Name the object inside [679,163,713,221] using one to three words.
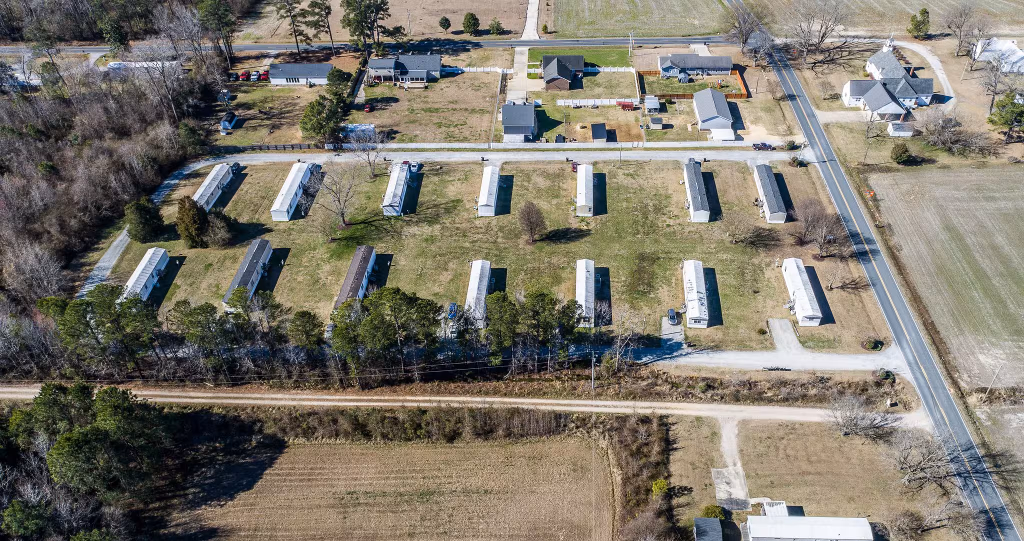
house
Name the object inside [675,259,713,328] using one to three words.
house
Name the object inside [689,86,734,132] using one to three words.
building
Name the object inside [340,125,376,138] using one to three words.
shed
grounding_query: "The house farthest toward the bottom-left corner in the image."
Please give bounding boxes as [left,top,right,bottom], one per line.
[116,247,168,314]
